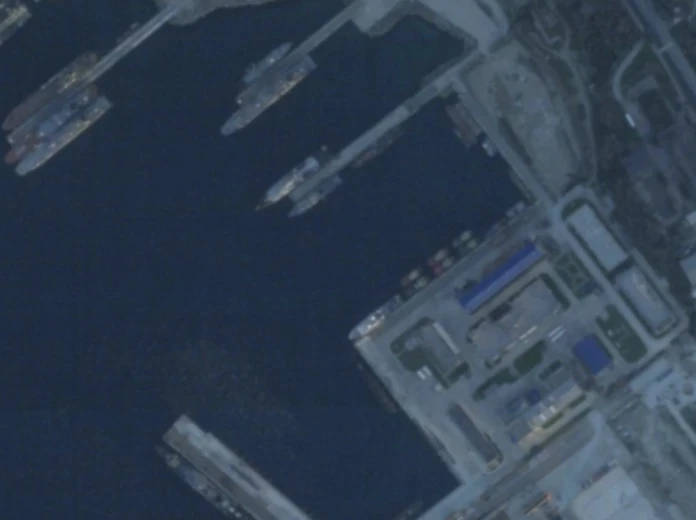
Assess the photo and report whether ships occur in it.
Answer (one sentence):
Yes, the picture does show a ship.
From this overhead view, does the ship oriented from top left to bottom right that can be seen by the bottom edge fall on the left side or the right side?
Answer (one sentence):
It is on the left.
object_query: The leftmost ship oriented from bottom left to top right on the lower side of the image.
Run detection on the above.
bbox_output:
[348,291,402,339]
